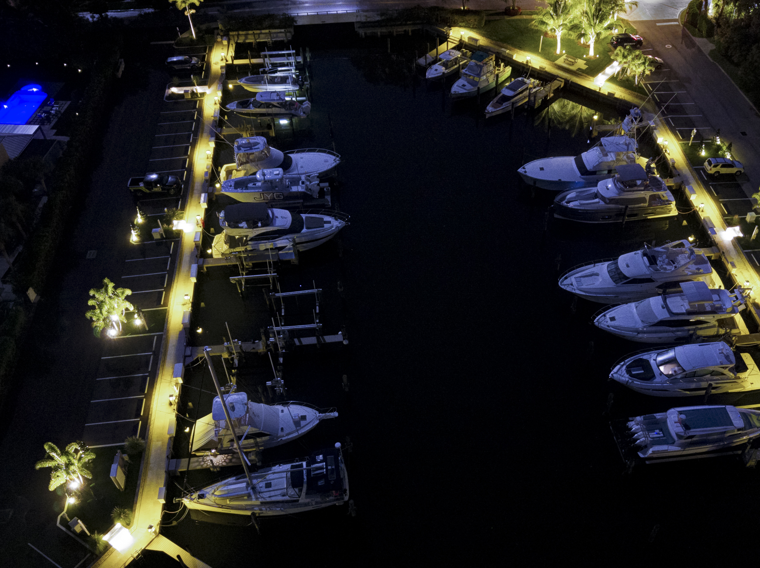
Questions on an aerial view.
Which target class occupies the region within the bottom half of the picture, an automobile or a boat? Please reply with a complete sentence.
Visible within the bottom half of the picture is a boat.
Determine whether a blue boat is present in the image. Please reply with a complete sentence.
Yes, the frame does contain a blue boat.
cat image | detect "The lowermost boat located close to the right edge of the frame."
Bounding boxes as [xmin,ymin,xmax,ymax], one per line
[629,404,760,452]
